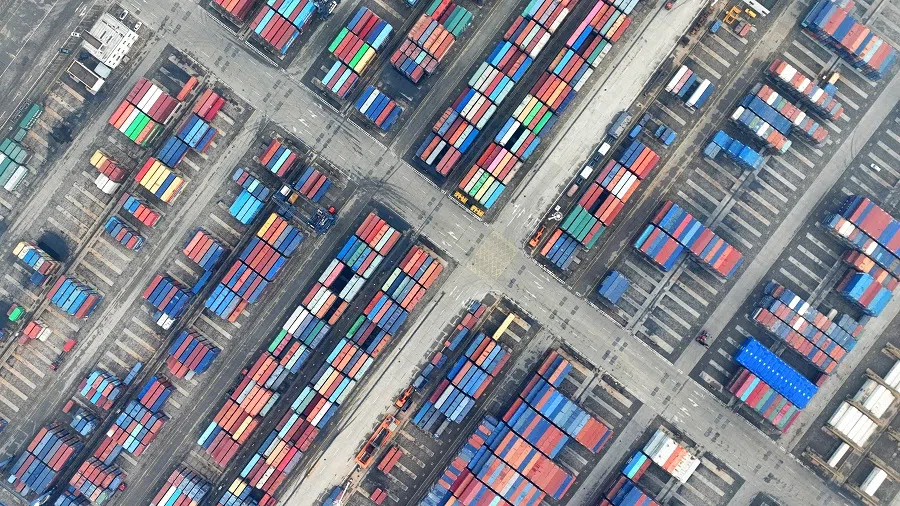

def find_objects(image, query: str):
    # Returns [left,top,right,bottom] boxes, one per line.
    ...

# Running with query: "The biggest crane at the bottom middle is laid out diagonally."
[352,411,398,467]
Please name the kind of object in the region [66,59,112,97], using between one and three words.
building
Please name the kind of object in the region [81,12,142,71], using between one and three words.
building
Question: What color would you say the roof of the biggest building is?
white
